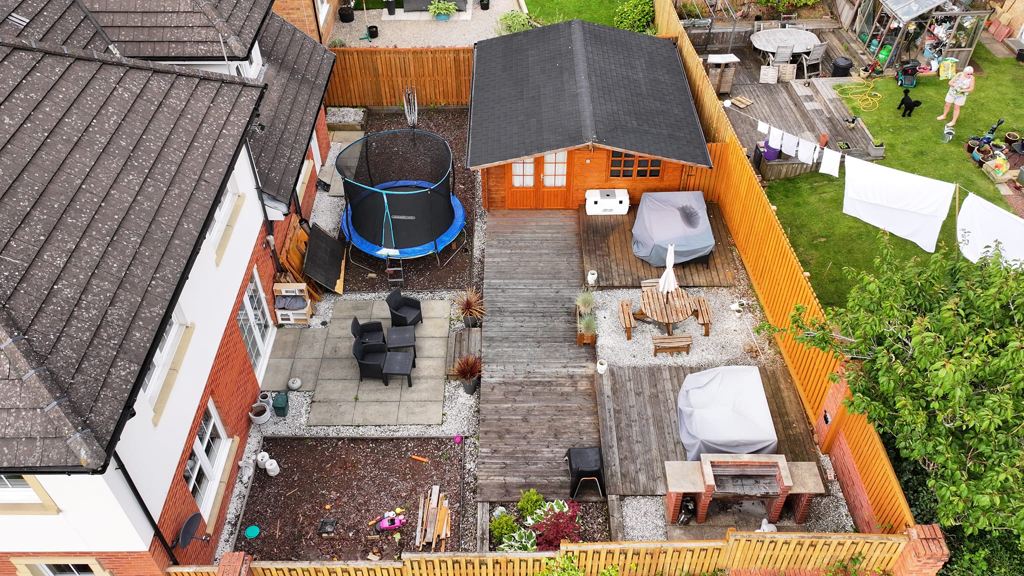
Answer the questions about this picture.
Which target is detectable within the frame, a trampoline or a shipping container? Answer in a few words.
trampoline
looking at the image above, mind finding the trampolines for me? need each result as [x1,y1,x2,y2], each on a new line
[335,132,467,276]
